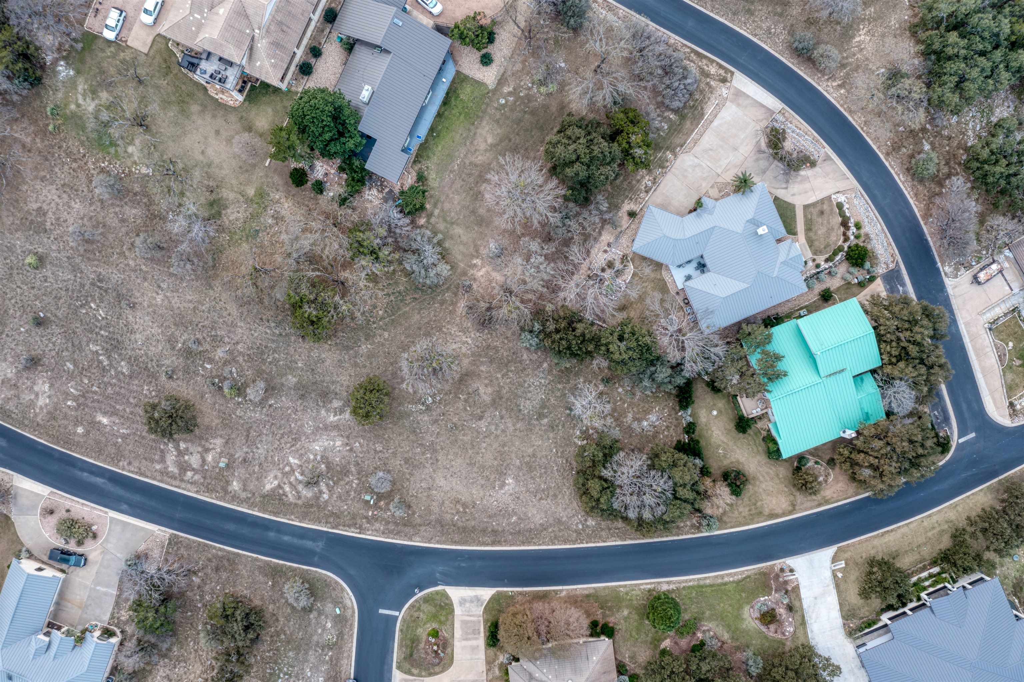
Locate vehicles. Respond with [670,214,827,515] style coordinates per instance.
[142,0,164,28]
[48,547,90,567]
[414,0,443,20]
[105,6,128,42]
[344,671,358,682]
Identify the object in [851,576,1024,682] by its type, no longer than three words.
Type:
house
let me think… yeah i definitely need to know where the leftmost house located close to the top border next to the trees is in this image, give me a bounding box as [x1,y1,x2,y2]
[160,0,332,95]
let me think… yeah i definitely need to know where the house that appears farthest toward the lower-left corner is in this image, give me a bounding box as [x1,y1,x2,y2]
[0,556,122,682]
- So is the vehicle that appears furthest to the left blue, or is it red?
blue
